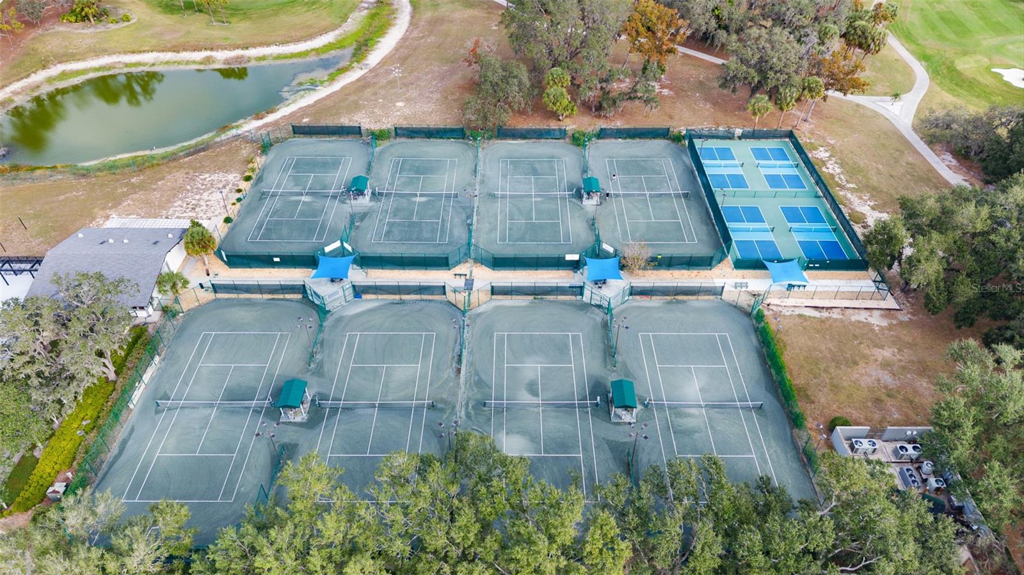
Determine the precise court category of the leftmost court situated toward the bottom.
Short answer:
tennis court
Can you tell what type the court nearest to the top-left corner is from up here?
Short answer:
tennis court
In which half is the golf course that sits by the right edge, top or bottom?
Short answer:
top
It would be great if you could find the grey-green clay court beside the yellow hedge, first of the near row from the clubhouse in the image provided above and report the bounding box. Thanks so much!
[76,300,326,548]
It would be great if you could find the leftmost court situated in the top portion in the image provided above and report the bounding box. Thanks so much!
[220,138,374,262]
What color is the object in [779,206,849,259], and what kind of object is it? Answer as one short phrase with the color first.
blue sports court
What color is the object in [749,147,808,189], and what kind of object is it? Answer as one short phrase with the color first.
blue sports court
